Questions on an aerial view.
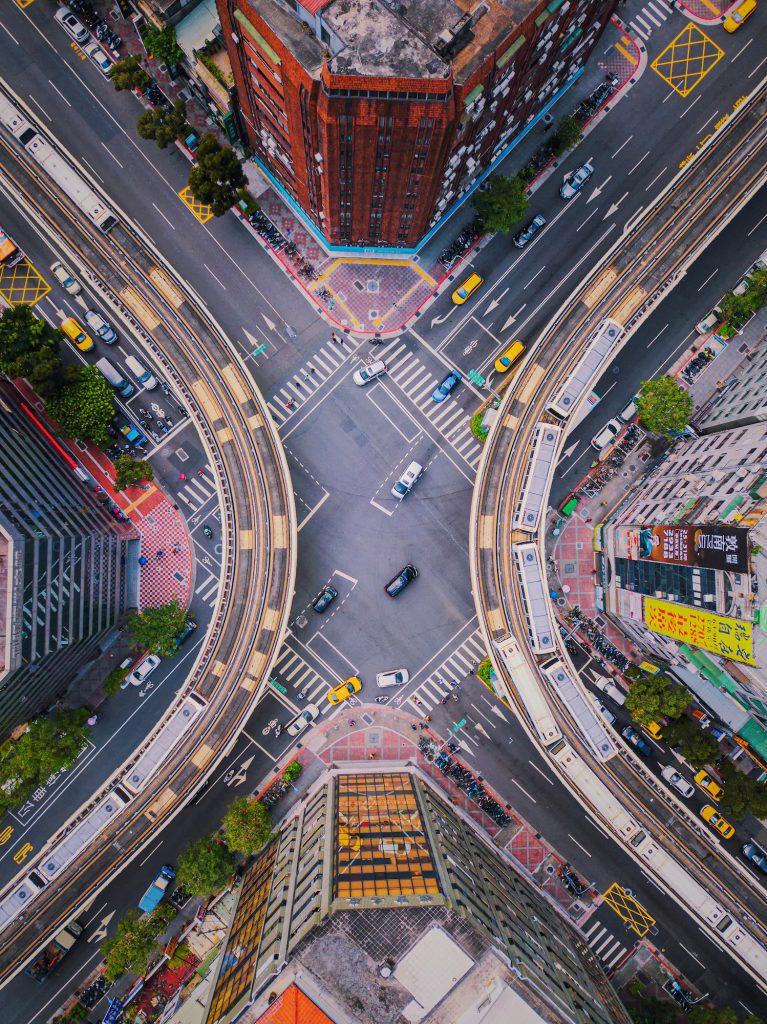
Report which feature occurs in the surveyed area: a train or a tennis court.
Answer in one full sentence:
Of the two, only a train appears.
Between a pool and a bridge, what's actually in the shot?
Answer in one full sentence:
It is a bridge that can be seen here.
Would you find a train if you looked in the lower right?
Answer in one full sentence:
Yes, a train appears in the lower right.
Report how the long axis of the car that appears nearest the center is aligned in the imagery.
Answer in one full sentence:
What the image shows is the car that appears nearest the center lying at an angle.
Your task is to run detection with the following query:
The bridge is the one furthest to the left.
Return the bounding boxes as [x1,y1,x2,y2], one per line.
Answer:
[0,77,296,988]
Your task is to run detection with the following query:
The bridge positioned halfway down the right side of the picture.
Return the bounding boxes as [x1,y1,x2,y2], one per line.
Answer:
[469,77,767,988]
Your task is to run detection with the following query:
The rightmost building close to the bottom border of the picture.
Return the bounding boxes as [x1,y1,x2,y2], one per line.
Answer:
[200,765,645,1024]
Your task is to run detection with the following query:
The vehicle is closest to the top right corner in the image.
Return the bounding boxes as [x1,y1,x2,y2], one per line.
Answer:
[720,0,761,36]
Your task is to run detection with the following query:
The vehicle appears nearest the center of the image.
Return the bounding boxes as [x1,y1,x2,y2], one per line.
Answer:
[388,458,426,499]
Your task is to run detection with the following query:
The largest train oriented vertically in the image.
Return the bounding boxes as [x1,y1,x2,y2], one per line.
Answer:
[508,318,622,761]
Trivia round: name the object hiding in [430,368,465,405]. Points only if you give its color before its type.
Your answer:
blue car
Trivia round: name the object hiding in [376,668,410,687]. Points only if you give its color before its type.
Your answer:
white car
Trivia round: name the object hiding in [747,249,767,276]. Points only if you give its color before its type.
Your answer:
gray car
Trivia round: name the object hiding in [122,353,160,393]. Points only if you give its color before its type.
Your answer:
white car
